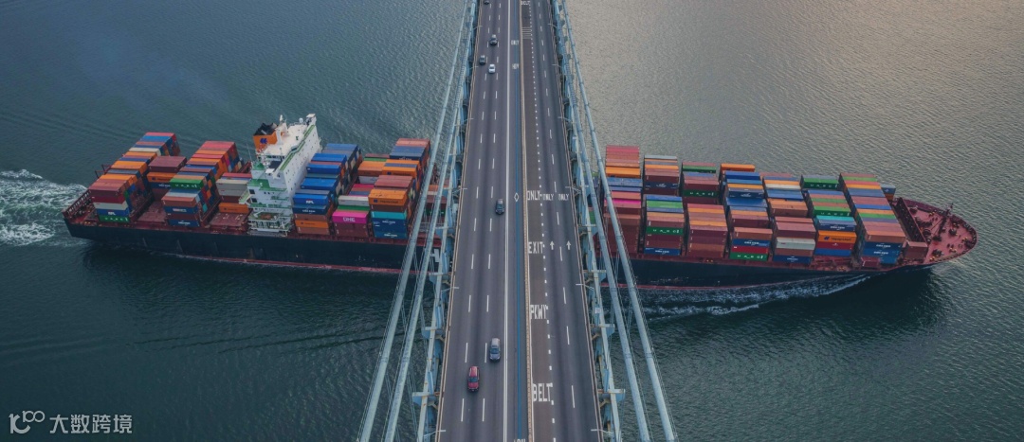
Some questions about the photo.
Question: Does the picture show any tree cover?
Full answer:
No, tree cover can't be seen anywhere here.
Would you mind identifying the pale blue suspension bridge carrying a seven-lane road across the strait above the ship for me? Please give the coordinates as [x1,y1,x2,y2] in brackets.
[360,0,681,442]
